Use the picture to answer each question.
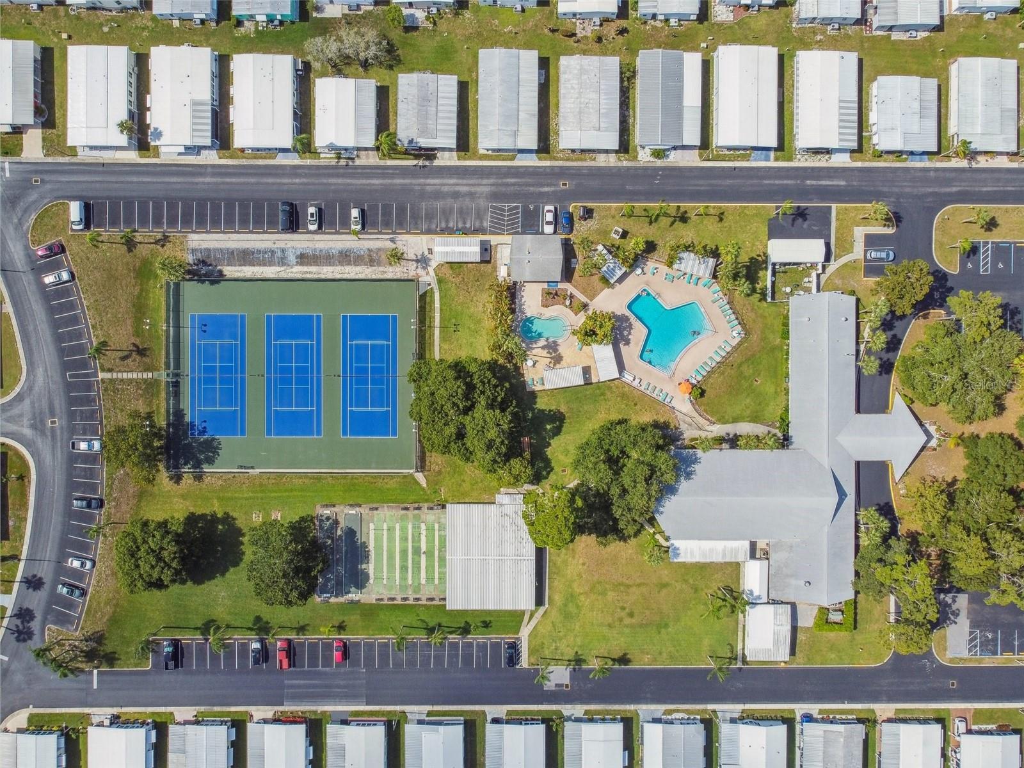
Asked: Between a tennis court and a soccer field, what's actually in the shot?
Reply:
tennis court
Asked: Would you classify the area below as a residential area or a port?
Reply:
residential area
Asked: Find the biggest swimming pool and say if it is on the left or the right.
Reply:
right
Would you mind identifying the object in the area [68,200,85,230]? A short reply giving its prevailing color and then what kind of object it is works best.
white vehicle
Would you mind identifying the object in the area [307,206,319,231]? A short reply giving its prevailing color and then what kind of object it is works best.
white vehicle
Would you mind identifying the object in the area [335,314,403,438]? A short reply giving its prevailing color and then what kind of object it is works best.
blue tennis court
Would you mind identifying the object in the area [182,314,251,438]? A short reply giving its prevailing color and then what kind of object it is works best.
blue tennis court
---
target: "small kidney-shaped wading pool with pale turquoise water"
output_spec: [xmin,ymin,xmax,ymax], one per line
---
[519,314,572,342]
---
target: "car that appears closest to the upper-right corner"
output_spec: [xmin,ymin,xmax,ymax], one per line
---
[867,249,893,261]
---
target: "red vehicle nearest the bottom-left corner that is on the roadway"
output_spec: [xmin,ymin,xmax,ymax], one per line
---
[277,638,290,670]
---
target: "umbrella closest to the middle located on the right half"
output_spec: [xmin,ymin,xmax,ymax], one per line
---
[678,381,692,395]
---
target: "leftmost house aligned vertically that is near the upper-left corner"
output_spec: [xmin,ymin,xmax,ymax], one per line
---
[0,39,42,132]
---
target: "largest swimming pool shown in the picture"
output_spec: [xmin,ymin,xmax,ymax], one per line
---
[626,286,718,377]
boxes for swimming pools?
[519,314,572,342]
[626,286,718,377]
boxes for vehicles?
[333,639,345,663]
[277,638,290,670]
[867,249,893,261]
[74,498,102,510]
[350,207,362,231]
[504,640,516,666]
[953,713,967,735]
[561,211,572,235]
[58,582,85,598]
[279,202,293,234]
[250,639,263,666]
[307,206,319,231]
[68,556,95,571]
[162,639,177,671]
[68,200,85,230]
[543,206,555,234]
[43,270,72,285]
[35,243,63,258]
[492,717,501,723]
[801,713,814,736]
[70,440,103,453]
